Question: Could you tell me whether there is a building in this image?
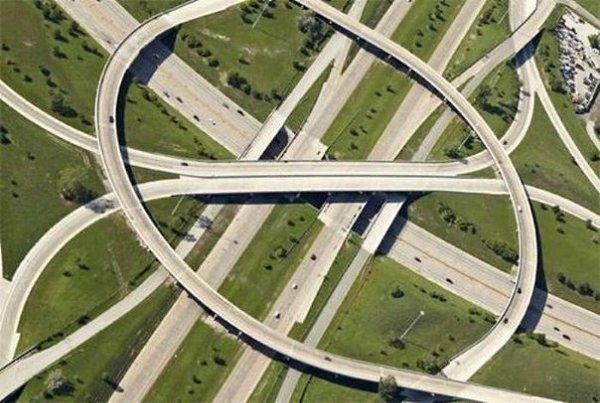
No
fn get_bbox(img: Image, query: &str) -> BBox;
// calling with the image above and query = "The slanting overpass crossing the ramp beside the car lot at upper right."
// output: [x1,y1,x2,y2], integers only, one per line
[479,0,556,75]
